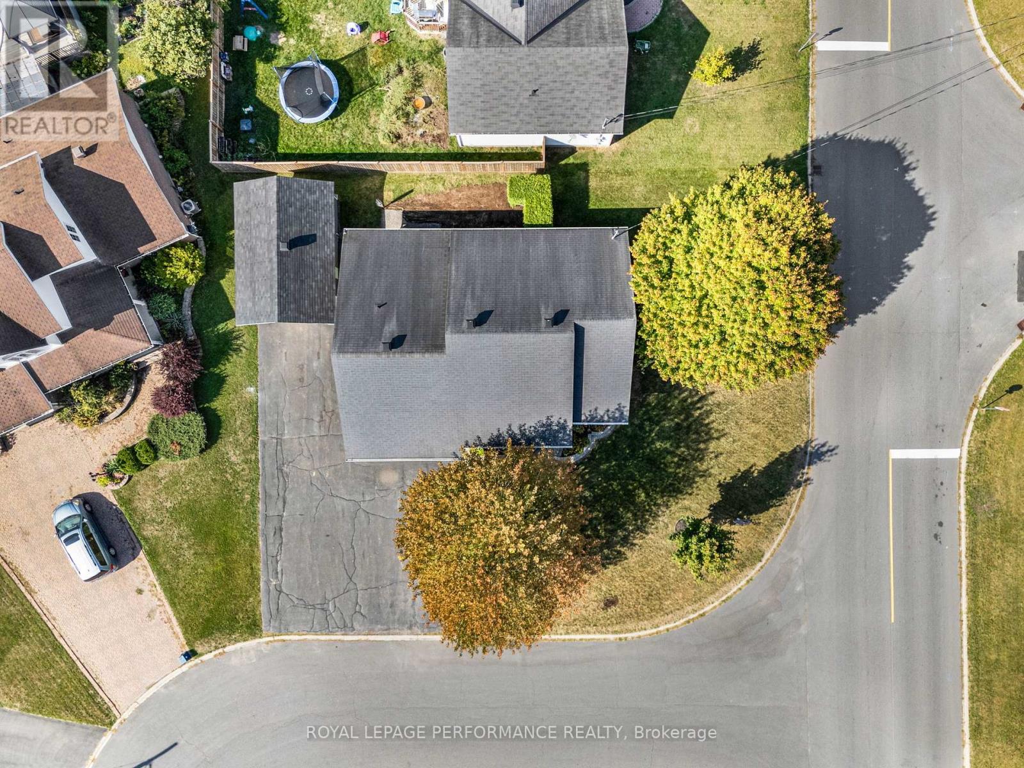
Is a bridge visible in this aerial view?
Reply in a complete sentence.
No, there is no bridge in the image.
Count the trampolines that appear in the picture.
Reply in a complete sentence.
I count just 1 trampoline.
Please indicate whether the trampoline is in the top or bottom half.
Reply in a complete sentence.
The trampoline is in the top half of the image.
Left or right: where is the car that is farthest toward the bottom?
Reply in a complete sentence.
It is on the left.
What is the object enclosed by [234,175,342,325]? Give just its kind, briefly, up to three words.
building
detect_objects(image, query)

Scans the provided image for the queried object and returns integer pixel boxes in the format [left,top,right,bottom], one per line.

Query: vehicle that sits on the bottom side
[55,498,115,583]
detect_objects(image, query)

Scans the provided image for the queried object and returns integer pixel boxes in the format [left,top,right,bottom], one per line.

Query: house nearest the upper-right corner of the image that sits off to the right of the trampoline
[444,0,628,147]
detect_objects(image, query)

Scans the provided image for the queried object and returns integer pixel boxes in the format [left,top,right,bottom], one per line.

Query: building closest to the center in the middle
[333,225,637,462]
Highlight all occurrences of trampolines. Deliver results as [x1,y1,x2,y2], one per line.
[274,49,342,126]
